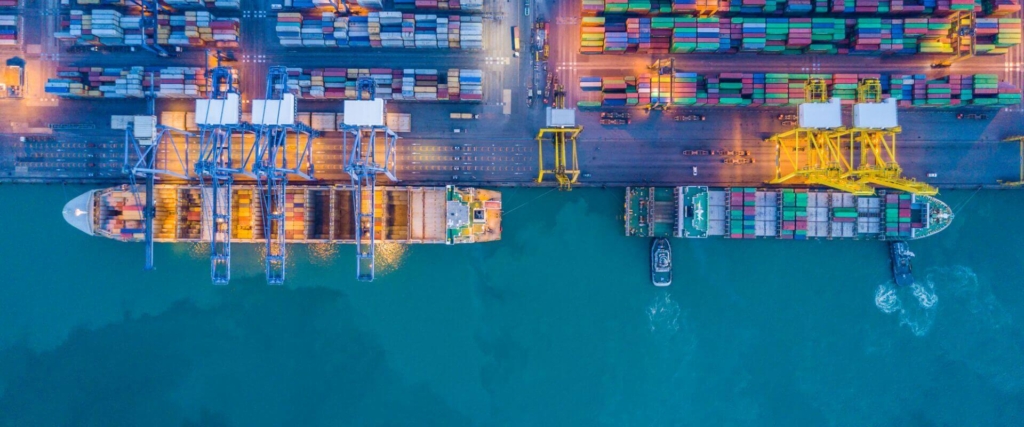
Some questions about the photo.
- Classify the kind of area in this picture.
port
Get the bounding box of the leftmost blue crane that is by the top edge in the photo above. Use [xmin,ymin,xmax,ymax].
[140,3,175,66]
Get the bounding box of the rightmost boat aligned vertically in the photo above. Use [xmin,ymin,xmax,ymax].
[892,241,917,287]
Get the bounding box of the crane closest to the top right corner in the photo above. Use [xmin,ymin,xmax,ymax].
[936,9,974,67]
